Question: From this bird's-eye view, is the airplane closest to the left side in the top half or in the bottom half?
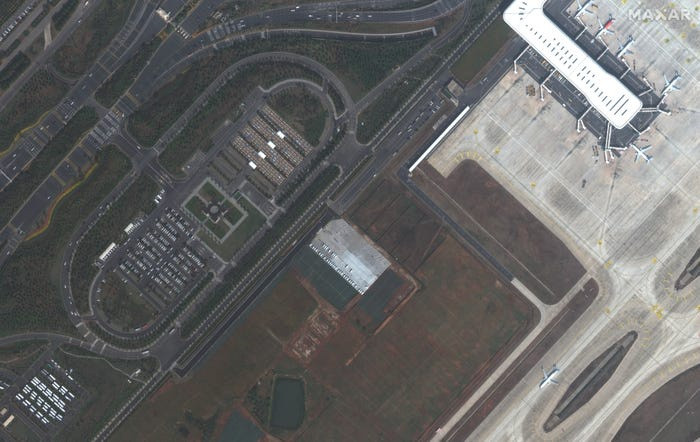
bottom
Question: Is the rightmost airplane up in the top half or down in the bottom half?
top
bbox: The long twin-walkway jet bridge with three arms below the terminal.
[606,123,627,162]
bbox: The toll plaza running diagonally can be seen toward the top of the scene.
[156,8,192,43]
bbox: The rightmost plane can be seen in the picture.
[662,74,684,94]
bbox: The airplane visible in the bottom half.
[541,367,561,387]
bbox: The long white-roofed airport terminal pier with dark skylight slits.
[502,0,643,129]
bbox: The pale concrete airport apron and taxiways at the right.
[428,0,700,442]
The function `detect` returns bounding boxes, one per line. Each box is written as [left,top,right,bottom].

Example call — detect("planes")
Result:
[576,0,596,16]
[630,143,652,164]
[619,36,637,57]
[662,74,684,94]
[541,367,561,387]
[595,16,617,38]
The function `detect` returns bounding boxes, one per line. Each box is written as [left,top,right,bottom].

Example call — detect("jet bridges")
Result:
[597,36,610,59]
[576,17,588,40]
[639,79,654,96]
[541,70,556,100]
[622,59,632,76]
[642,94,670,114]
[514,44,530,74]
[628,122,650,135]
[578,107,592,132]
[606,123,627,162]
